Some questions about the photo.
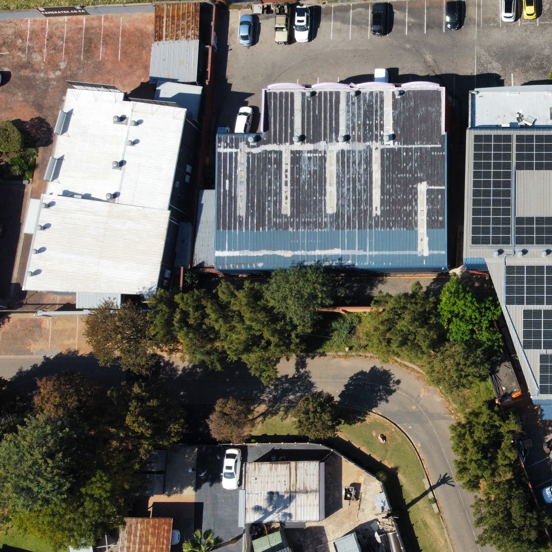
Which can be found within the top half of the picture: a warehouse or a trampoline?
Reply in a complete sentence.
Visible within the top half of the picture is a warehouse.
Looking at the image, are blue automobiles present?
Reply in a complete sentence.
Yes, there's a blue automobile here.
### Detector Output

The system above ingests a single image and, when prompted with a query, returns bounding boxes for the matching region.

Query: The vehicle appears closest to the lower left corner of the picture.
[170,529,182,544]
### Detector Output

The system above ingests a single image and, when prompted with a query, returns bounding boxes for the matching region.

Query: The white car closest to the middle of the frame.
[234,105,255,133]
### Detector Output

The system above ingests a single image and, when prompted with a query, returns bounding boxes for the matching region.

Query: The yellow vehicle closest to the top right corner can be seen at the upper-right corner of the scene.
[522,0,537,21]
